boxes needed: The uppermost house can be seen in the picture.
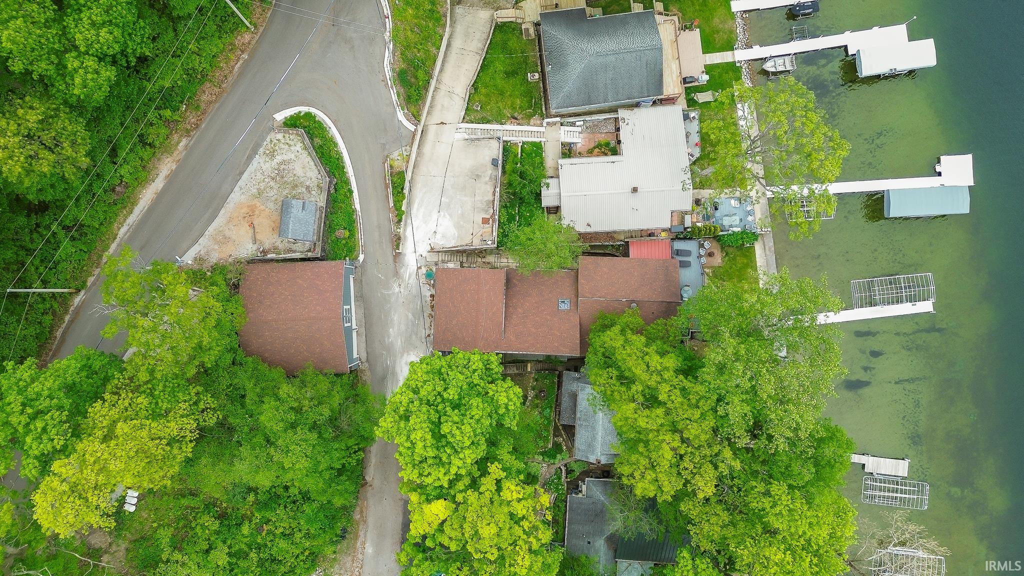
[540,6,664,114]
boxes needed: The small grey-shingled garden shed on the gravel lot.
[279,199,320,242]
